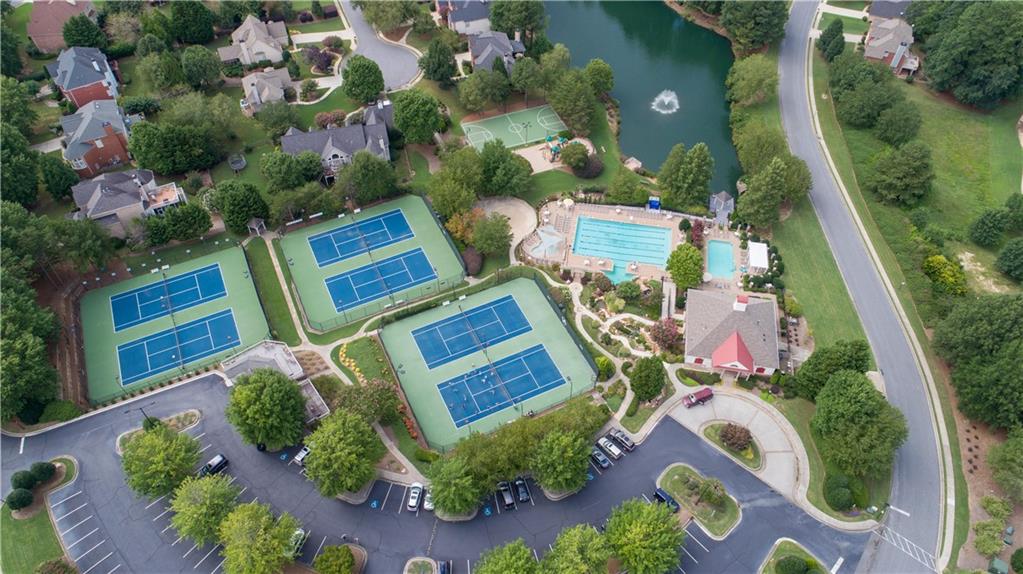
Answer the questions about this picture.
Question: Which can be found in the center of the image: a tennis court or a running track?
tennis court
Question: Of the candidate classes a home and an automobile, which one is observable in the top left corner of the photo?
home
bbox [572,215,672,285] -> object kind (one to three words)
swimming pool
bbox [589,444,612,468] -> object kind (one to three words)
car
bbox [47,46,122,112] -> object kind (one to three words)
house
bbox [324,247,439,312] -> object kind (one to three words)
tennis court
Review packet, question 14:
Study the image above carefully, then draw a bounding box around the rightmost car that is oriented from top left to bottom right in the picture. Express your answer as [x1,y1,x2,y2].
[654,485,682,510]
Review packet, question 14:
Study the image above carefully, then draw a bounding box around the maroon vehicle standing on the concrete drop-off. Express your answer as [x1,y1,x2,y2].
[685,387,712,405]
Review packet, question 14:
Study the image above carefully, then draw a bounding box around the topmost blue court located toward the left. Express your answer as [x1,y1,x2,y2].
[308,208,416,268]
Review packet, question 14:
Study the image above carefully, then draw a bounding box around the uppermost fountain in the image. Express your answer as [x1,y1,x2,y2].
[649,91,681,112]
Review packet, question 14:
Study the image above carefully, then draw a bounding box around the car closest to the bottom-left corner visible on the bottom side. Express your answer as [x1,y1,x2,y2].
[199,452,228,476]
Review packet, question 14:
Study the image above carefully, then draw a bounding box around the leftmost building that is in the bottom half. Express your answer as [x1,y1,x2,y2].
[220,339,306,384]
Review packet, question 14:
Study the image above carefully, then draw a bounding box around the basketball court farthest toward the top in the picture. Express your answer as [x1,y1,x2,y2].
[463,104,567,152]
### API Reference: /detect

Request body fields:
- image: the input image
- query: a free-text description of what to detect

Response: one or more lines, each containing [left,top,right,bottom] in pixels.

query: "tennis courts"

[437,343,566,428]
[308,208,416,268]
[110,263,227,331]
[117,307,242,385]
[411,293,533,369]
[324,247,439,312]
